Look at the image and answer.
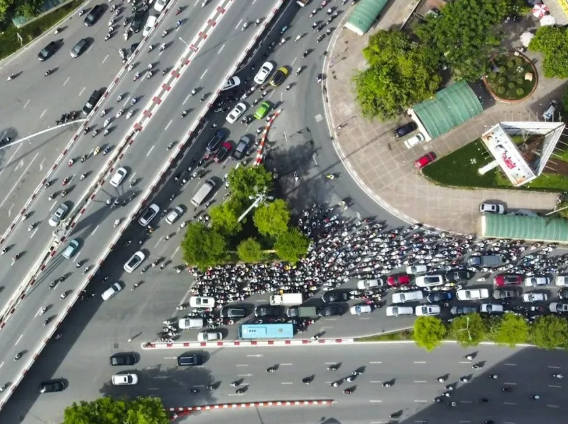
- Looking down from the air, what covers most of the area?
paved ground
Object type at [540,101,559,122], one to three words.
car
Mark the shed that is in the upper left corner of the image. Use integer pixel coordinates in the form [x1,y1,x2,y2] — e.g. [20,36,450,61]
[13,0,80,30]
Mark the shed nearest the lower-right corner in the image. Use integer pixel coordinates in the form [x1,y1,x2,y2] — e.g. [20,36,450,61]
[477,215,568,244]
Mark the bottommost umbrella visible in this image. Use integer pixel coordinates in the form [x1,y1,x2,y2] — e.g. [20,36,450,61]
[519,33,534,47]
